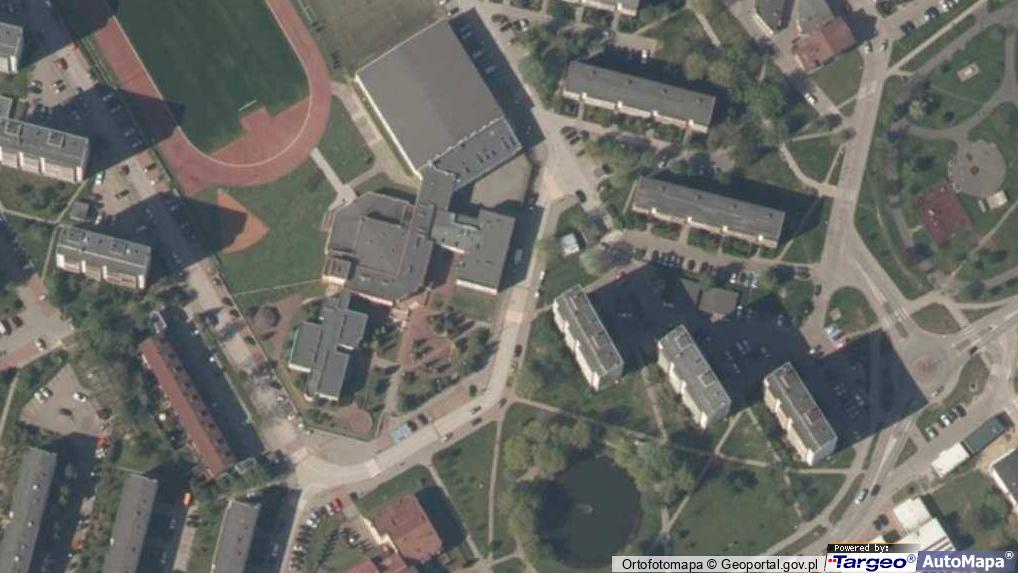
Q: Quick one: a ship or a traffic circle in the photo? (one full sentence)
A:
I can see a traffic circle in this picture.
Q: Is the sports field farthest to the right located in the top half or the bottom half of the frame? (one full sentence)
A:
The top half of the photo is where the sports field farthest to the right is.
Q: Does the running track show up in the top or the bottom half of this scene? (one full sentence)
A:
The running track sits in the top half of the picture.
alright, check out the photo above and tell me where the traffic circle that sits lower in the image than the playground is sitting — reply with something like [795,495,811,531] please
[890,331,962,403]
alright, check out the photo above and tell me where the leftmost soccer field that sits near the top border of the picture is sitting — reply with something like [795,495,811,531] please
[105,0,309,153]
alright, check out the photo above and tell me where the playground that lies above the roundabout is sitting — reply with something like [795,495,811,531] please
[915,181,972,247]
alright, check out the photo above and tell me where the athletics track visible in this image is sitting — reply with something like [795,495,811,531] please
[77,0,332,195]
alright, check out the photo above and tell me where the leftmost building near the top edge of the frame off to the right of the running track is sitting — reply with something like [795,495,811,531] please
[357,21,504,177]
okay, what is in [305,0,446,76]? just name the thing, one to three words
sports field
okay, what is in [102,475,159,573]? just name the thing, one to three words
building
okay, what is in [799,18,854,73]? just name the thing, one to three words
house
